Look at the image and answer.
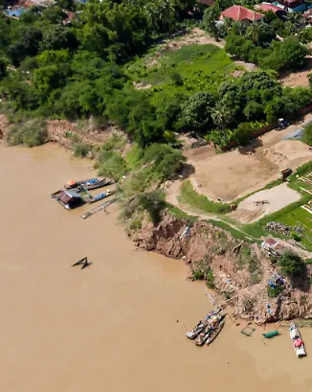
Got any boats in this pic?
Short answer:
Yes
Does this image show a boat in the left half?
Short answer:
Yes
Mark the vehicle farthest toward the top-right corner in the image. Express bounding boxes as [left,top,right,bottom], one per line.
[277,165,295,179]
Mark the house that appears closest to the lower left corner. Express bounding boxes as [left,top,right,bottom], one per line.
[48,188,89,209]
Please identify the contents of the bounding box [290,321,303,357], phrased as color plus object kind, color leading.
white boat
